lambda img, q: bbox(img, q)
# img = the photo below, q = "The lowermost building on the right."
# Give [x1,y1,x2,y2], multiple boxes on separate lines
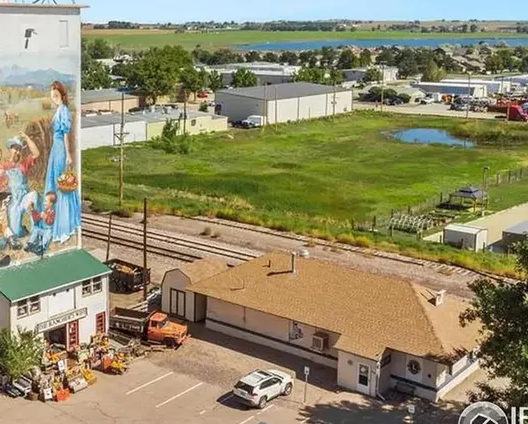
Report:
[186,252,502,405]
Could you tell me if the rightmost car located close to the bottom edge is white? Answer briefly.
Yes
